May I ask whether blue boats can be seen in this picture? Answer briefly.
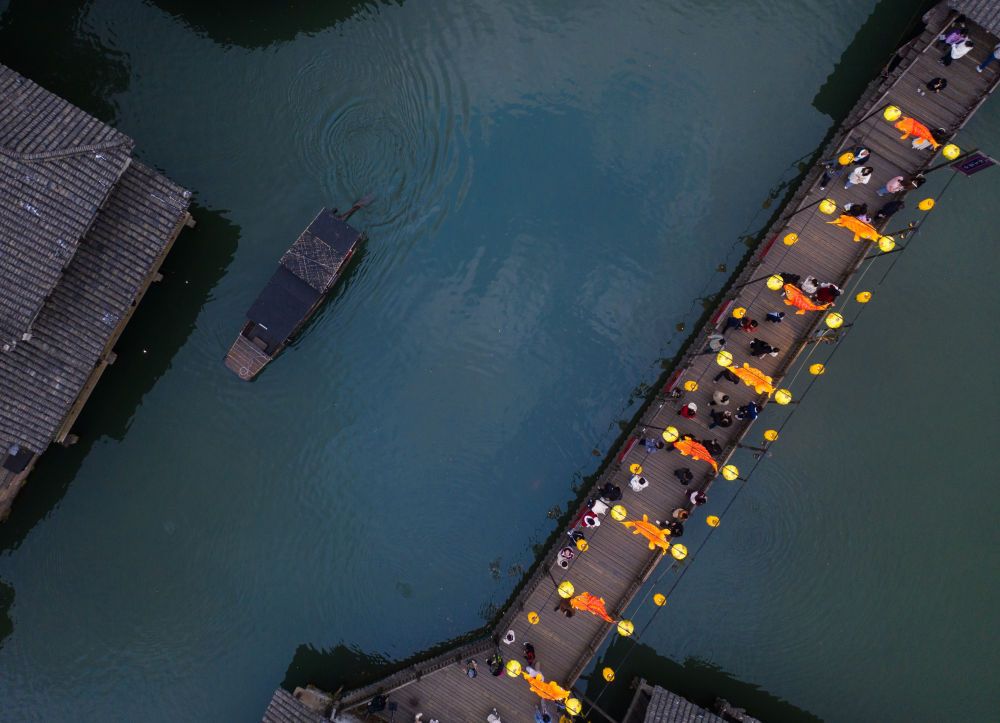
No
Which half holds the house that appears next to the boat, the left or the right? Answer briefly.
left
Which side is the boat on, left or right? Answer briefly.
left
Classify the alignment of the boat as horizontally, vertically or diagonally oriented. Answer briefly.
diagonally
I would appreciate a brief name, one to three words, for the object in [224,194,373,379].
boat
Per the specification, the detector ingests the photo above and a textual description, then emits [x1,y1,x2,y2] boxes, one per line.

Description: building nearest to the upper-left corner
[0,58,202,456]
